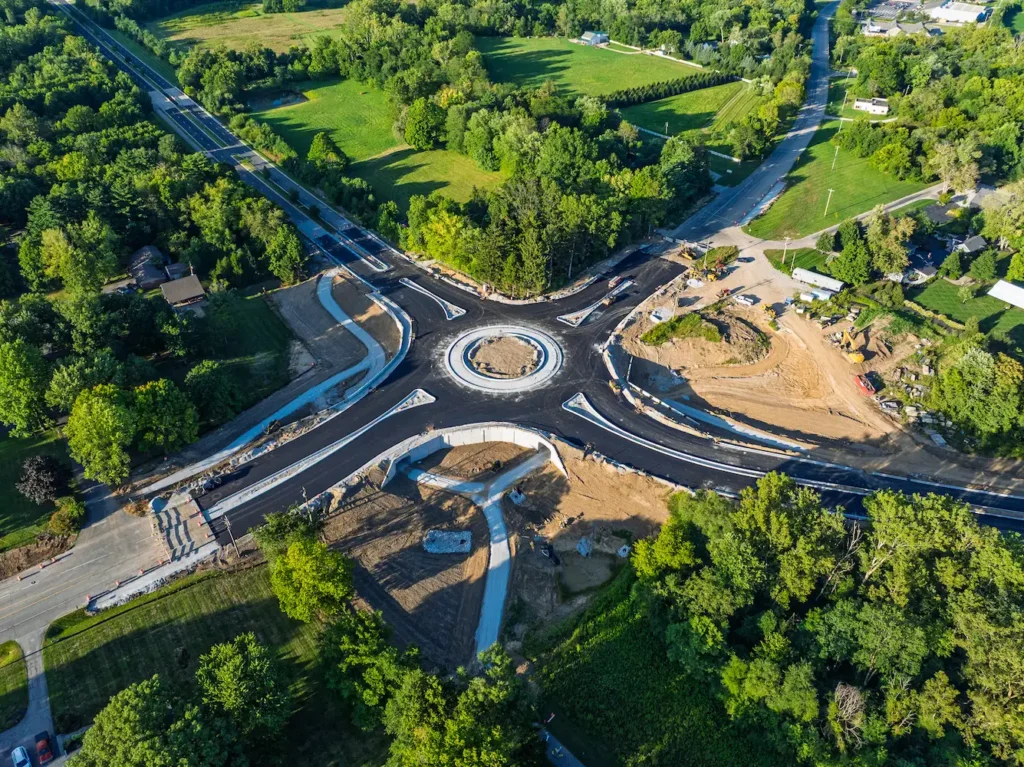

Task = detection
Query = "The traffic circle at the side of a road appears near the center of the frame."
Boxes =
[195,231,1024,543]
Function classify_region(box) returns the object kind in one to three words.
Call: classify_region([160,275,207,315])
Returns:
house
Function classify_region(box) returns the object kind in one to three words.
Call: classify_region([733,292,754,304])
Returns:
vehicle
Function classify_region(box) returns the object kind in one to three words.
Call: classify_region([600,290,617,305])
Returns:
work vehicle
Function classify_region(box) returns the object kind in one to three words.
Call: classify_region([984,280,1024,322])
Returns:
building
